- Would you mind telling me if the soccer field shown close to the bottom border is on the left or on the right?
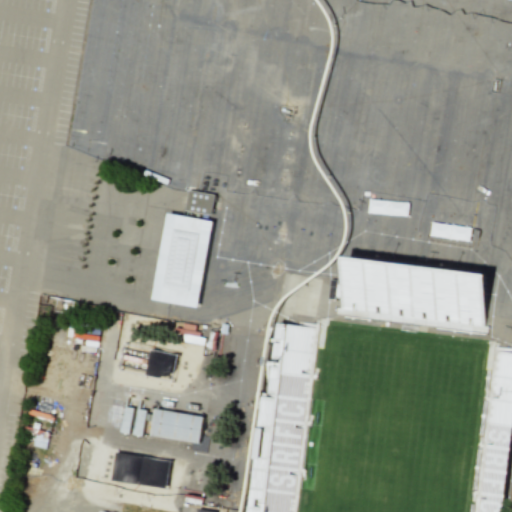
right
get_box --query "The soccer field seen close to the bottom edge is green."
[300,321,490,512]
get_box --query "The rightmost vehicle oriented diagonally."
[477,184,493,198]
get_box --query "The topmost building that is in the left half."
[188,190,218,212]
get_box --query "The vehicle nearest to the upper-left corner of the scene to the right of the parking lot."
[146,169,174,186]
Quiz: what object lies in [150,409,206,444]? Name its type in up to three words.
building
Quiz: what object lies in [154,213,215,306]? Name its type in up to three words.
building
